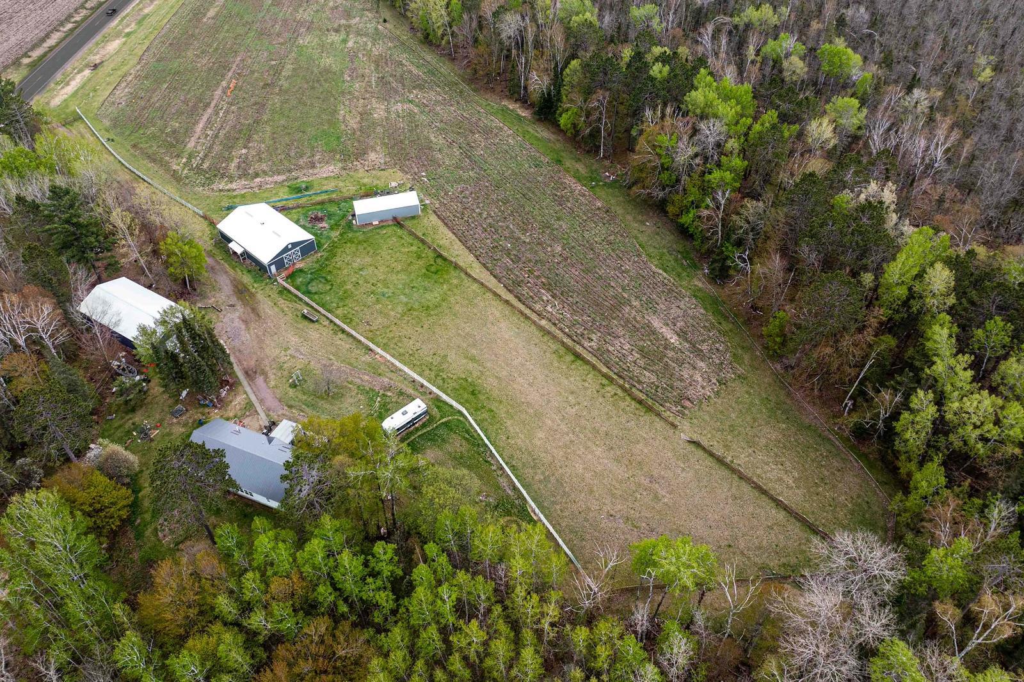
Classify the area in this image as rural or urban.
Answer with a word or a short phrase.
rural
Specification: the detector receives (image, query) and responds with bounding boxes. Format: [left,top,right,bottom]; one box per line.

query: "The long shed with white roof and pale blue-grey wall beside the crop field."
[352,189,420,223]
